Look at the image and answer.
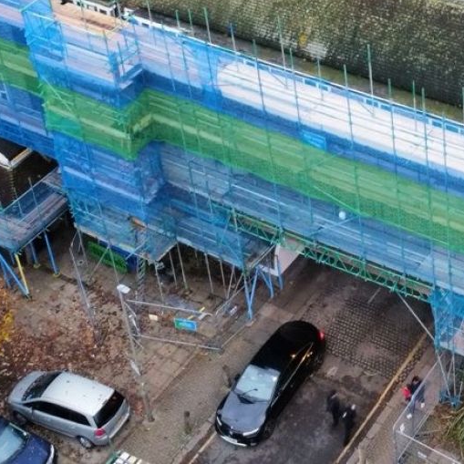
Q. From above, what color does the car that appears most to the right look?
black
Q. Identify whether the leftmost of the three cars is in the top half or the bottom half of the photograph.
bottom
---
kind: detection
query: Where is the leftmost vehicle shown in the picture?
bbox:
[0,410,55,464]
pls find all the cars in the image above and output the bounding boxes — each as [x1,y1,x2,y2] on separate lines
[220,319,335,438]
[0,410,55,464]
[13,357,124,447]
